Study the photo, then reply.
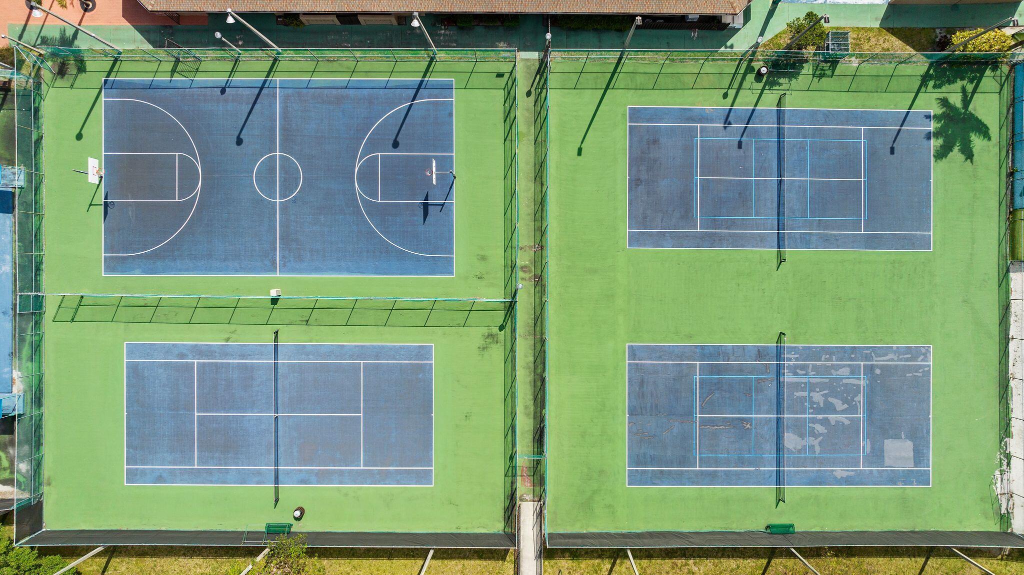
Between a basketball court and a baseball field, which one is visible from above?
basketball court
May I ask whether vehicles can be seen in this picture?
No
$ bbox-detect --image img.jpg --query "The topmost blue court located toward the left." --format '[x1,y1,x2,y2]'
[102,78,455,276]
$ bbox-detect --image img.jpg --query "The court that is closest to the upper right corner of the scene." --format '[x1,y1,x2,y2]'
[627,106,933,251]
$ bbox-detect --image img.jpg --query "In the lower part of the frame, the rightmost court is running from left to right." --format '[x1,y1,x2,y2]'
[627,344,932,487]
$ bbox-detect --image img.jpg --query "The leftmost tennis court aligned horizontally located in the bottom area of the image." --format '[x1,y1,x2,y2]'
[124,342,434,486]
